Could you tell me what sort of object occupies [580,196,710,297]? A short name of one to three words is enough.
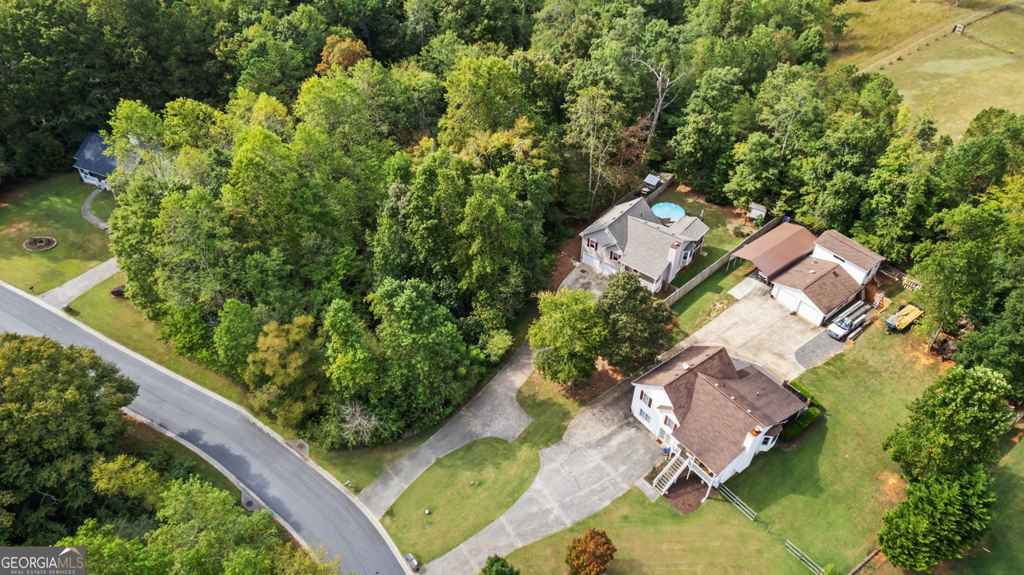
house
